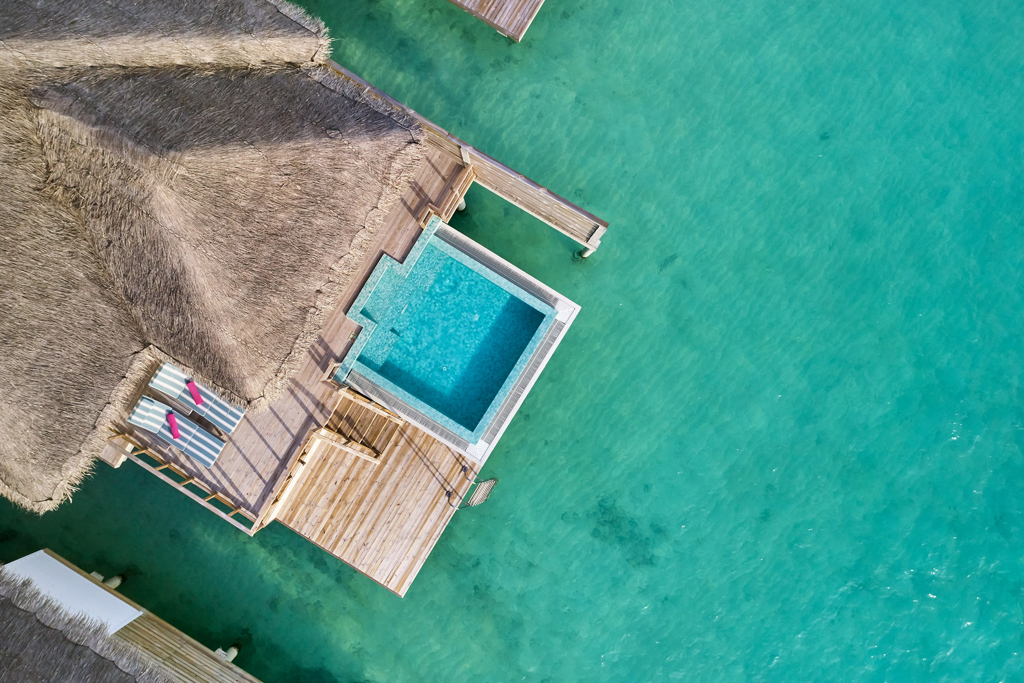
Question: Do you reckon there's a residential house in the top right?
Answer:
No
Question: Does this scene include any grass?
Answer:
No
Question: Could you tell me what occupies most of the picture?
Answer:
water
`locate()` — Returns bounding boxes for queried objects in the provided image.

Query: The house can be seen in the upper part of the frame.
[0,0,439,514]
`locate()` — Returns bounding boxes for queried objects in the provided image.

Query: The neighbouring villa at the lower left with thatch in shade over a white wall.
[0,543,277,683]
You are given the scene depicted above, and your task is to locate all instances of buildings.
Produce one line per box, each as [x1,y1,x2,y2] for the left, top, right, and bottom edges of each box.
[0,0,439,514]
[0,543,277,683]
